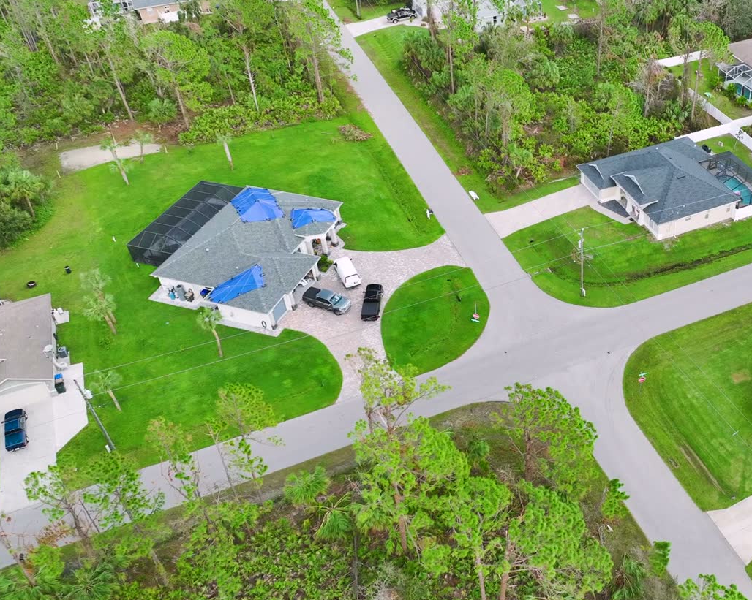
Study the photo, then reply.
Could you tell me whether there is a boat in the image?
No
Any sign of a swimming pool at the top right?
Yes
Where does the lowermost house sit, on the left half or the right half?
left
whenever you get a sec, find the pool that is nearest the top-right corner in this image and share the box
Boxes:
[718,78,752,104]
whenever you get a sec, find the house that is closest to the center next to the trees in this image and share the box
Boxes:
[150,186,344,334]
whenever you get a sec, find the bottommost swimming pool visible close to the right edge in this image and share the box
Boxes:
[705,167,752,221]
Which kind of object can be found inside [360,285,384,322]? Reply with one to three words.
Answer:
truck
